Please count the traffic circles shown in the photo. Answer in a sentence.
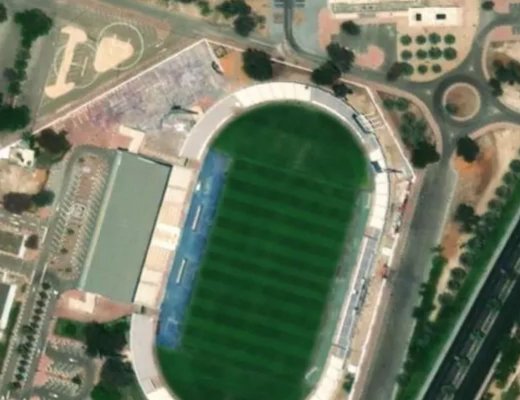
The photo contains exactly 1 traffic circle.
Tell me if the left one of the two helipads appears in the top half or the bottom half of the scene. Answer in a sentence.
The left one of the two helipads sits in the top half of the picture.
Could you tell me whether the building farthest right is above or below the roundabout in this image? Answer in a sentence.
It's above the roundabout that the building farthest right shows up.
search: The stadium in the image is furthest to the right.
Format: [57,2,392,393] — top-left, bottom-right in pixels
[129,81,390,400]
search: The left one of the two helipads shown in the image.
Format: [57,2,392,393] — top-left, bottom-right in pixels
[45,26,99,98]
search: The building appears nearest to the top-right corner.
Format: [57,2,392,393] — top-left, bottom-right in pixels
[410,6,464,26]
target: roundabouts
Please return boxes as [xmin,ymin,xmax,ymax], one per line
[427,68,495,136]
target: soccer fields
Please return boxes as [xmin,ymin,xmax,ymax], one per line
[154,99,375,400]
